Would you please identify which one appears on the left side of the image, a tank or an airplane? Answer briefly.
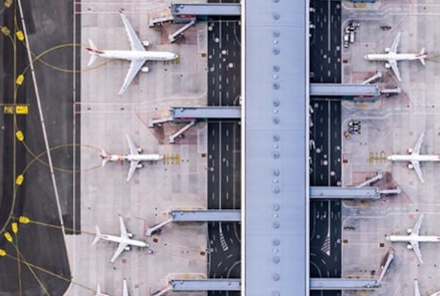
airplane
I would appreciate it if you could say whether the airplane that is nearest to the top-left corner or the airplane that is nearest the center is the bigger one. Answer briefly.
the airplane that is nearest to the top-left corner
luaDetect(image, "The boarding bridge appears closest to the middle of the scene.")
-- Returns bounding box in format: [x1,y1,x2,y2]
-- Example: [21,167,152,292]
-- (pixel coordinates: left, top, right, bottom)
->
[168,120,196,144]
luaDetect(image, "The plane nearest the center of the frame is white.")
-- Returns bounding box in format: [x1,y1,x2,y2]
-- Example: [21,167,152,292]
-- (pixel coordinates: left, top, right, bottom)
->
[101,132,163,184]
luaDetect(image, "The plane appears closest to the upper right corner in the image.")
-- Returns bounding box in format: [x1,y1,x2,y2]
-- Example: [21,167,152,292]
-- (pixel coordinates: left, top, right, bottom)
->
[364,28,429,81]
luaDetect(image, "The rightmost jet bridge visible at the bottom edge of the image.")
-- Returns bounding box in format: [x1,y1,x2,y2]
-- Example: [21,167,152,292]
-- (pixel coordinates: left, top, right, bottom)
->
[377,251,394,284]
